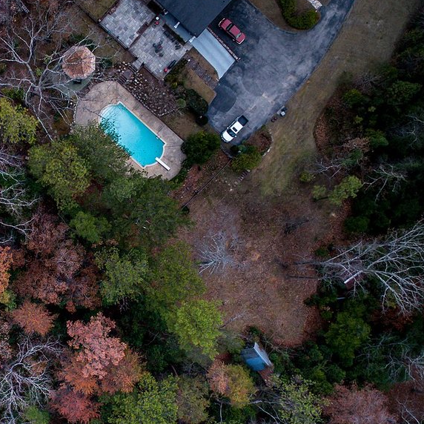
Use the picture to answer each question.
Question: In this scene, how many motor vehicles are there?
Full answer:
I count 2 motor vehicles.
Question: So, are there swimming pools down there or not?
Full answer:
Yes, a swimming pool is visible in the scene.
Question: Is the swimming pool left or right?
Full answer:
The swimming pool is on the left side of the image.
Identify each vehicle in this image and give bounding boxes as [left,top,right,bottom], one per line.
[217,17,246,44]
[220,114,250,145]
